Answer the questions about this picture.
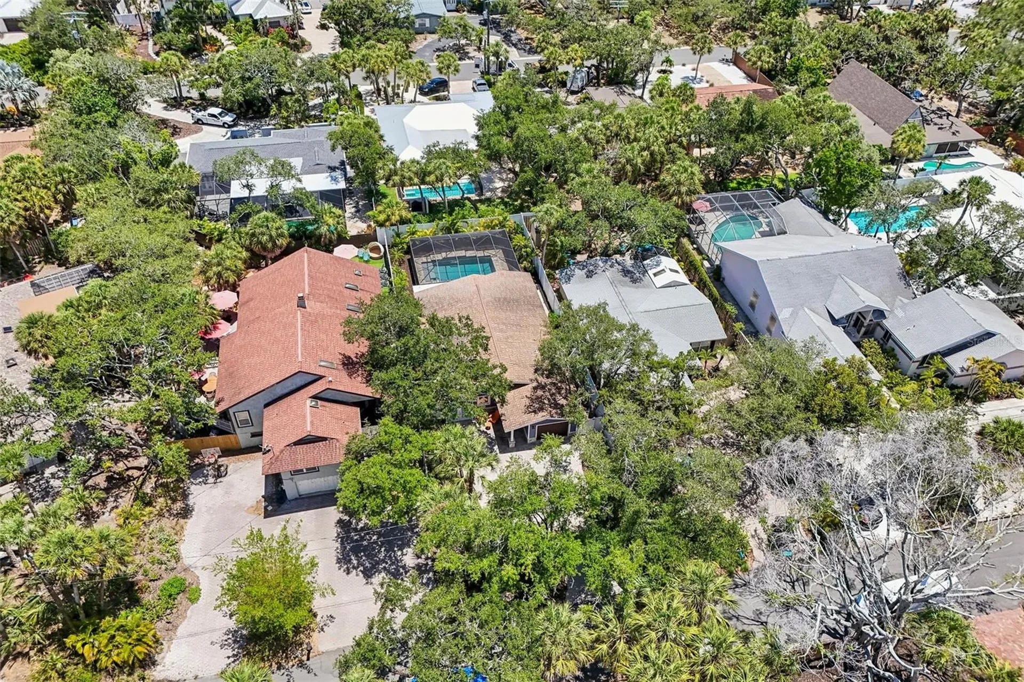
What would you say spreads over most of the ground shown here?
trees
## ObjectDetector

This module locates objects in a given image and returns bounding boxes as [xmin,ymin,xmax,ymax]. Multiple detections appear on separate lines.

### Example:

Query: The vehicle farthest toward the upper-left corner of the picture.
[190,103,237,127]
